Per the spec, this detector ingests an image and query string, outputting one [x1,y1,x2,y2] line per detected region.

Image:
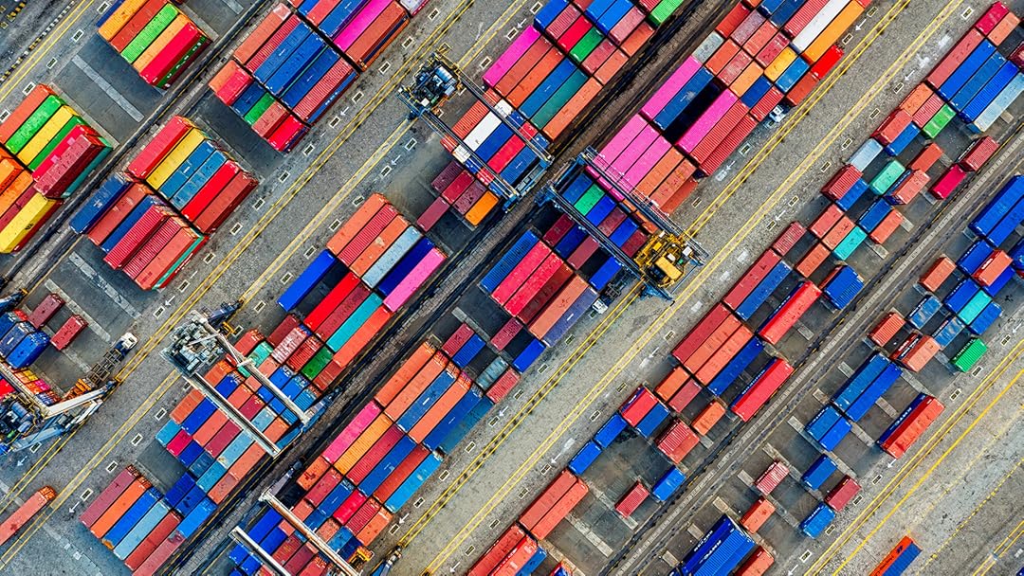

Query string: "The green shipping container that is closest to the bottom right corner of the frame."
[950,337,990,374]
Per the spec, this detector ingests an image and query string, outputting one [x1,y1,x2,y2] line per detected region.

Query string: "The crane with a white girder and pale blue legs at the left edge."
[0,355,118,460]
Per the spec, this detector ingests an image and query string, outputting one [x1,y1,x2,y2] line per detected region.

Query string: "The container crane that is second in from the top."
[535,132,713,300]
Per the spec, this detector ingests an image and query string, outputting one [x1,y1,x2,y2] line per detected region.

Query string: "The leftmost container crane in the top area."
[392,39,566,213]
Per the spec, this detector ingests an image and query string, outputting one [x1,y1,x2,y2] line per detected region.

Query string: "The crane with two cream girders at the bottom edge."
[222,450,406,576]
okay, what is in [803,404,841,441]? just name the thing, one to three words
shipping container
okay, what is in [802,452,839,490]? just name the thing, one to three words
shipping container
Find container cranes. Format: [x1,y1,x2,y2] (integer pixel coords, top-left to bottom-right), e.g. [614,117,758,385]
[222,450,406,576]
[150,294,345,468]
[0,355,118,460]
[392,39,566,213]
[535,132,713,300]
